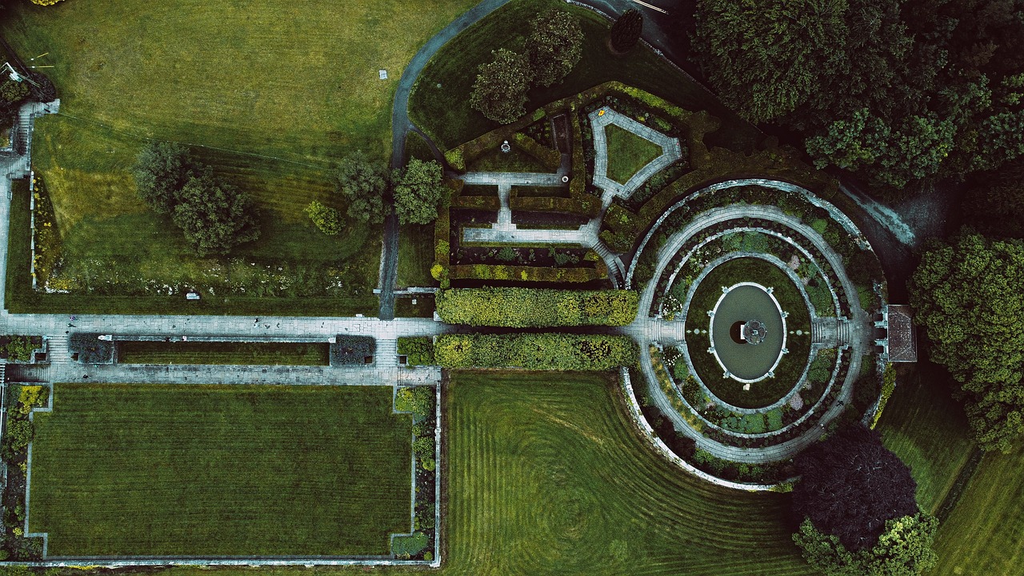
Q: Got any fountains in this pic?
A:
Yes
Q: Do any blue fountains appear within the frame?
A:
No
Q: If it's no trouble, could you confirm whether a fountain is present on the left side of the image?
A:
No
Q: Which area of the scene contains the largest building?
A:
right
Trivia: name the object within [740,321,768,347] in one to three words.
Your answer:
fountain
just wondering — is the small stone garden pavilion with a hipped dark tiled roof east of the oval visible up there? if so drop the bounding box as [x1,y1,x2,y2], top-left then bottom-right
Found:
[866,305,917,362]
